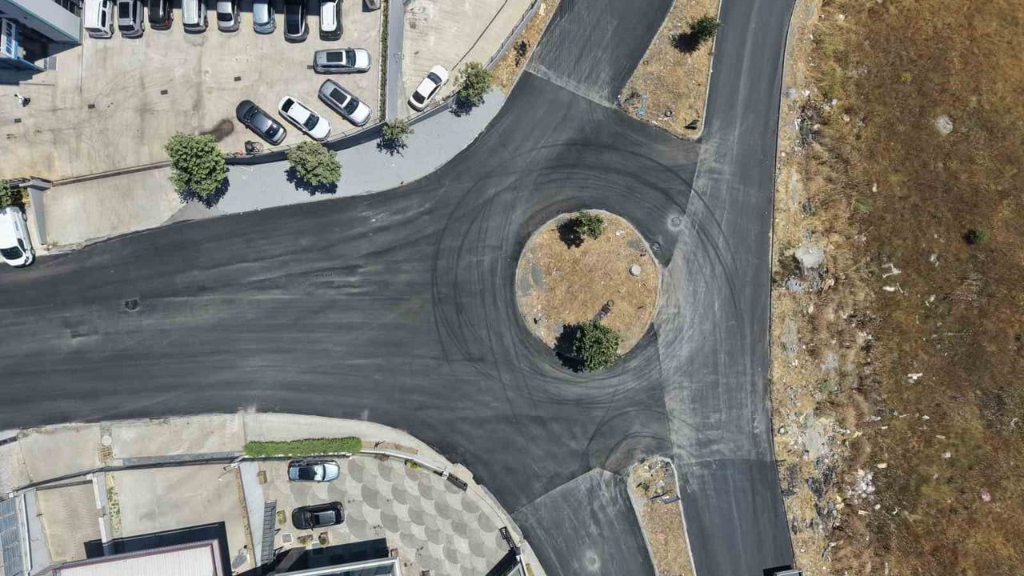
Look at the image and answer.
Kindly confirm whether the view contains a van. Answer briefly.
Yes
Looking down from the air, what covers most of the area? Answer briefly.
paved ground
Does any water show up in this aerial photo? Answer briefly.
No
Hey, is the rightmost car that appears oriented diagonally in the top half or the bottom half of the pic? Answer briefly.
top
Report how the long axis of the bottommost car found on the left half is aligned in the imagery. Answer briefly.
from left to right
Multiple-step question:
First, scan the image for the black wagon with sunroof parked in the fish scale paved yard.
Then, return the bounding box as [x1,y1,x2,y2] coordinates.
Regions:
[291,501,346,532]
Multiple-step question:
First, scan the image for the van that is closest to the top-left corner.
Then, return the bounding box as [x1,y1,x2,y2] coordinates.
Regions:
[81,0,116,39]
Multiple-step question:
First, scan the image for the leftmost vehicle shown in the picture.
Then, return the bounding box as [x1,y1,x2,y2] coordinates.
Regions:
[0,205,39,268]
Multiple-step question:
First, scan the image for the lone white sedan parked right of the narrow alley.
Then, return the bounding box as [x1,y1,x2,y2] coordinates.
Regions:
[404,62,453,115]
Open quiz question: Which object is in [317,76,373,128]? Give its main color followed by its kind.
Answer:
gray car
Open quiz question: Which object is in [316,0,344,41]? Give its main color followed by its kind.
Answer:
white car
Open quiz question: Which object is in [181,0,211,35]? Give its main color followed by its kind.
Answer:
gray car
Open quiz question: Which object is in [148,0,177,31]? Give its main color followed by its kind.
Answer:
black car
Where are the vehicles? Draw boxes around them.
[287,457,341,484]
[316,0,344,41]
[283,0,310,43]
[404,62,453,115]
[291,501,346,532]
[234,99,290,148]
[148,0,177,31]
[116,0,147,39]
[217,0,243,33]
[181,0,211,35]
[0,205,39,268]
[81,0,116,39]
[317,76,373,128]
[277,94,333,142]
[253,0,279,35]
[312,44,373,76]
[768,564,805,576]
